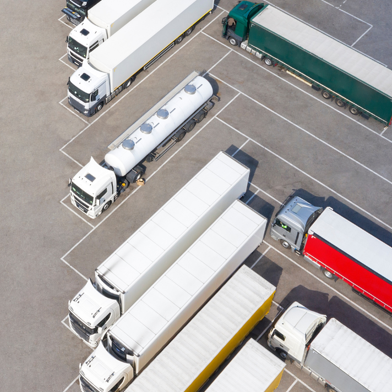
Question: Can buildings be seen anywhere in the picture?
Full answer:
No, the picture doesn't show any building.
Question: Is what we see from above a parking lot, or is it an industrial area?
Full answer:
It's a parking lot.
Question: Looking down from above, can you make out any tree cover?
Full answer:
No, no tree cover is visible.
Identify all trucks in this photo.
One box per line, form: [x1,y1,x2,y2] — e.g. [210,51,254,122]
[127,265,276,392]
[270,199,392,317]
[68,70,222,217]
[67,150,251,342]
[267,302,392,392]
[66,0,156,67]
[220,2,392,128]
[205,338,286,392]
[66,0,215,115]
[77,200,268,392]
